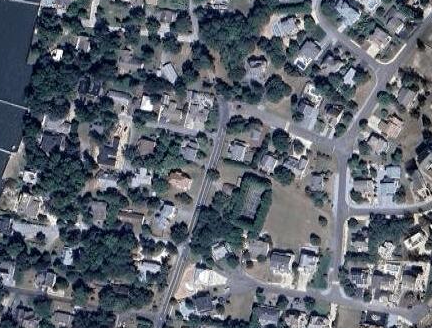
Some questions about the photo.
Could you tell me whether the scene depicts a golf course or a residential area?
residential area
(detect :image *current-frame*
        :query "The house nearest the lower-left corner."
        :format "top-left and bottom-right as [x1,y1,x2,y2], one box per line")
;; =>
[16,304,41,328]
